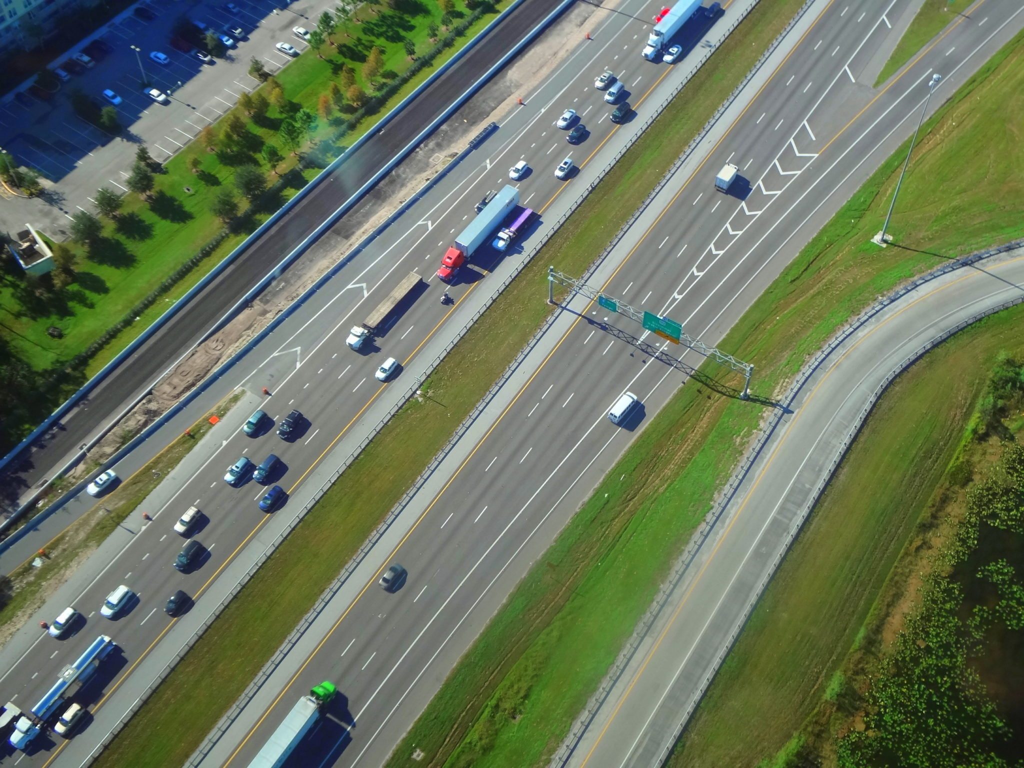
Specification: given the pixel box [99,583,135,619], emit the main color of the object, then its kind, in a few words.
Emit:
white car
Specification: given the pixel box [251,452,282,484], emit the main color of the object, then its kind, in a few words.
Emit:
blue car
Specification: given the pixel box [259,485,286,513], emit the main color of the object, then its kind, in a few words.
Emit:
blue car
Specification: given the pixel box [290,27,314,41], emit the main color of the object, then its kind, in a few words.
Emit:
white car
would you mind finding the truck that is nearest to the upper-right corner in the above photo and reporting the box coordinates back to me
[701,2,724,23]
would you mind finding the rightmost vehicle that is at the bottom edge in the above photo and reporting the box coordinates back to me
[239,681,338,768]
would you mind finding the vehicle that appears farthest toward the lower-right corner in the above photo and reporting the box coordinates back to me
[607,392,638,425]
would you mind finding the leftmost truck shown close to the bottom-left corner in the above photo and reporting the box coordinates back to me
[0,702,21,733]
